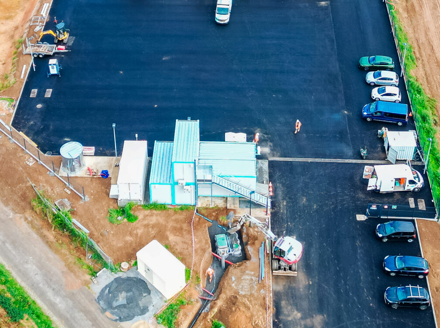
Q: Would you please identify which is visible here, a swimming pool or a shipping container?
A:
shipping container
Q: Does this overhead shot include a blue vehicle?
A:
Yes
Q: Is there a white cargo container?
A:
Yes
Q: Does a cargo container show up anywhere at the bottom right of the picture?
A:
No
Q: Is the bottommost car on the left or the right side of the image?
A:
right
